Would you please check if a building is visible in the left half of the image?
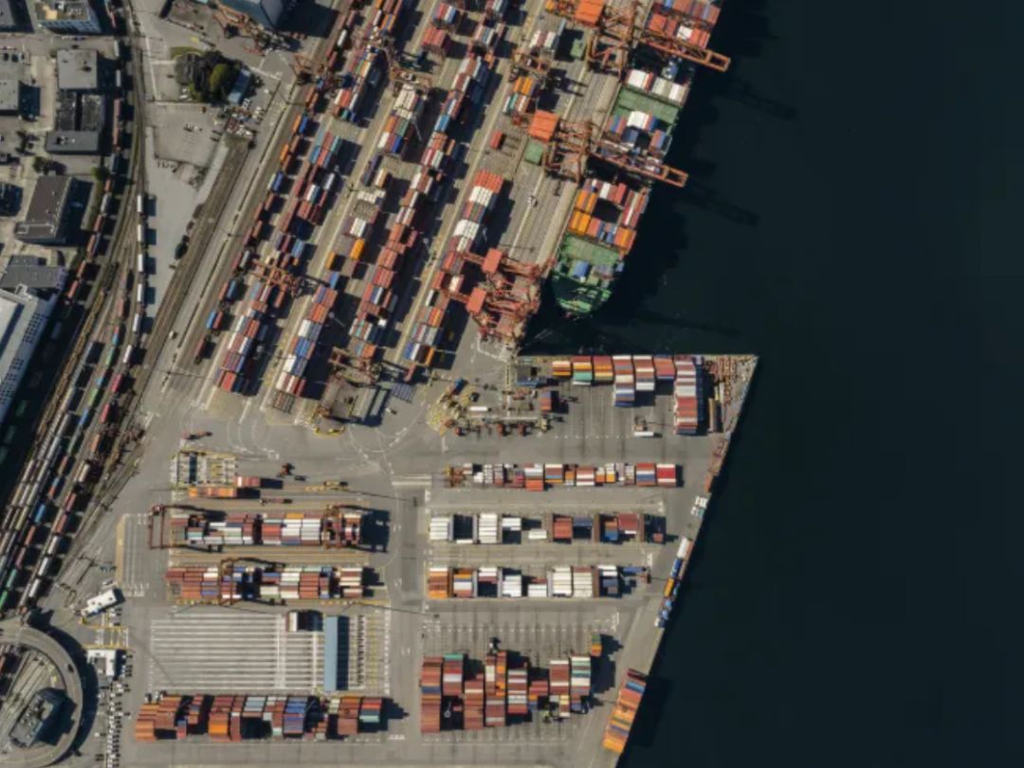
Yes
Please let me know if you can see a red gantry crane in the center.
Yes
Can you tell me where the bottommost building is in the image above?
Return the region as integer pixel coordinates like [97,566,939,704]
[9,688,66,746]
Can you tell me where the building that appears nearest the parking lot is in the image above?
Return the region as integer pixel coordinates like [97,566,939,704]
[227,68,251,104]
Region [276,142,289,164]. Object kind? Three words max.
rail car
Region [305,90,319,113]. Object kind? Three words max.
rail car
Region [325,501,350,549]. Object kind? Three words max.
container crane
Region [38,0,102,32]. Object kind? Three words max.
building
